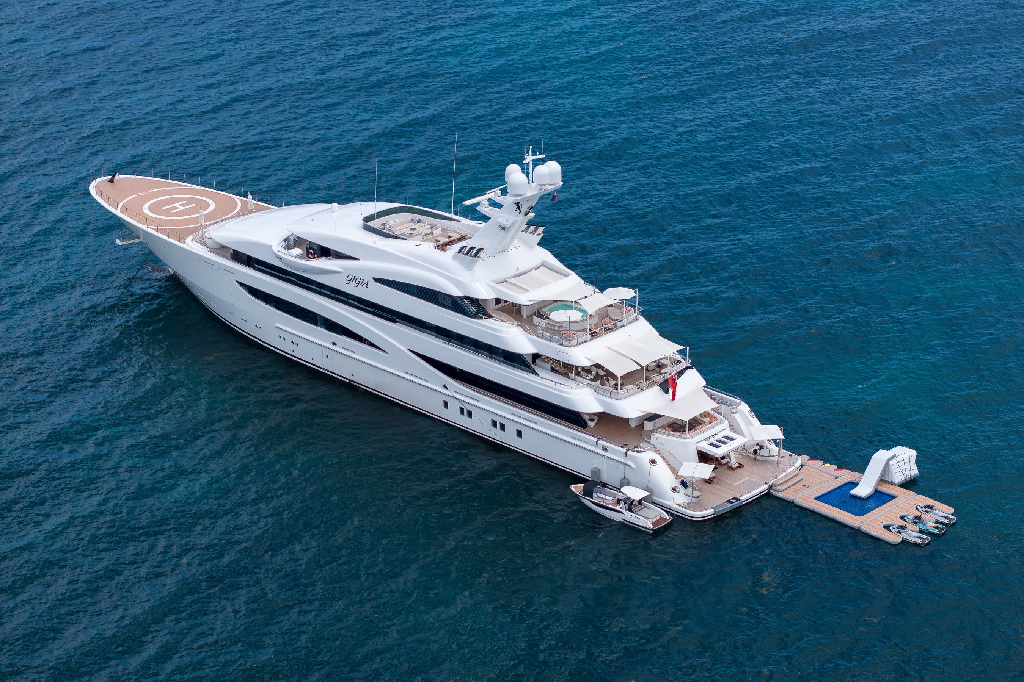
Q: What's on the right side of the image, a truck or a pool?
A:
pool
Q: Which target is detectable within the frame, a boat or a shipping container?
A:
boat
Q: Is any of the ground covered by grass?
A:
No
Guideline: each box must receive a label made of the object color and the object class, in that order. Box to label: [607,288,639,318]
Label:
white umbrella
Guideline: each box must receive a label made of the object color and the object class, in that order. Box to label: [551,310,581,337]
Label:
white umbrella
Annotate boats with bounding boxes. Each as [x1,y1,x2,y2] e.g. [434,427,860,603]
[907,513,944,537]
[92,133,797,521]
[569,480,676,539]
[919,504,956,527]
[892,525,929,548]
